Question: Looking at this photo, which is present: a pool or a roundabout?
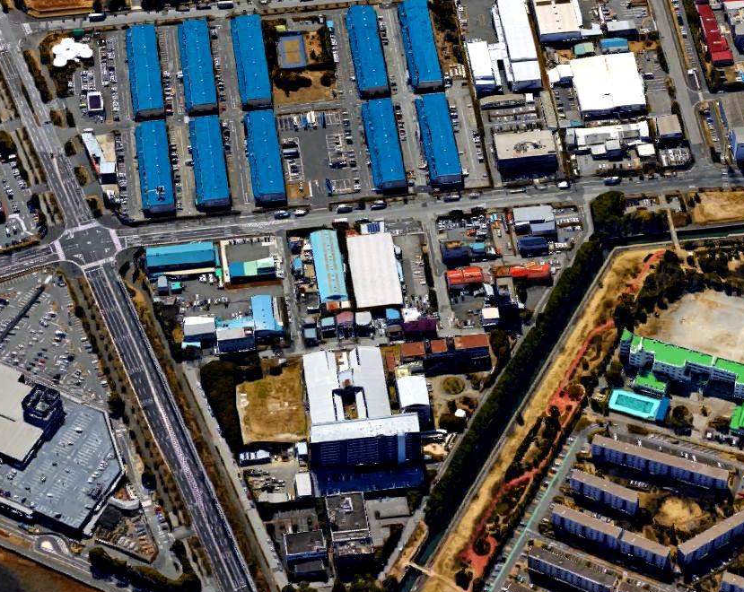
pool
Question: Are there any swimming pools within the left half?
No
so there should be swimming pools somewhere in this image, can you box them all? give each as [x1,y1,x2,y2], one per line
[609,390,671,422]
